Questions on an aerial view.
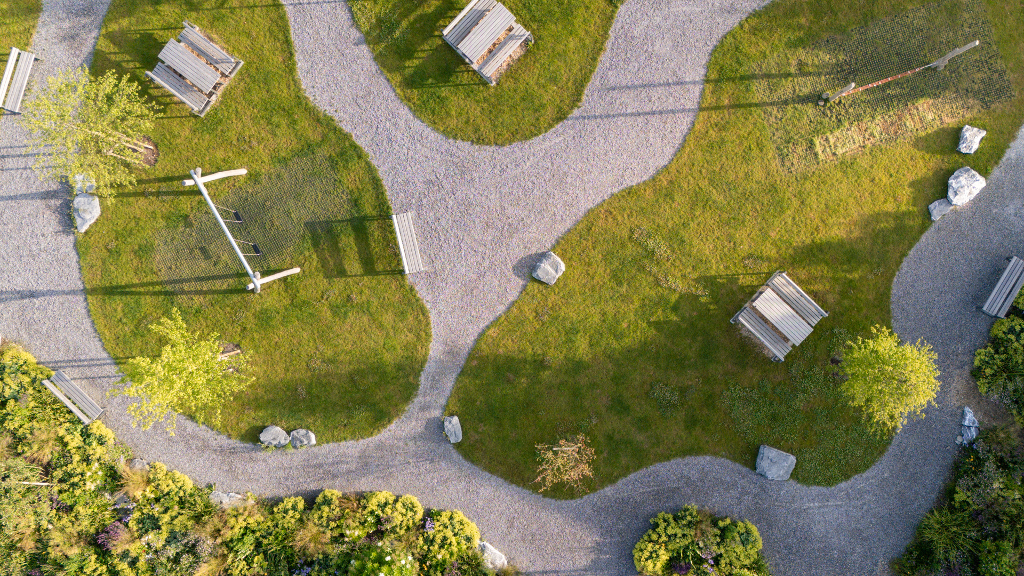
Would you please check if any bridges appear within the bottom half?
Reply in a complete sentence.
No, there's no bridge to be seen within the bottom half.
